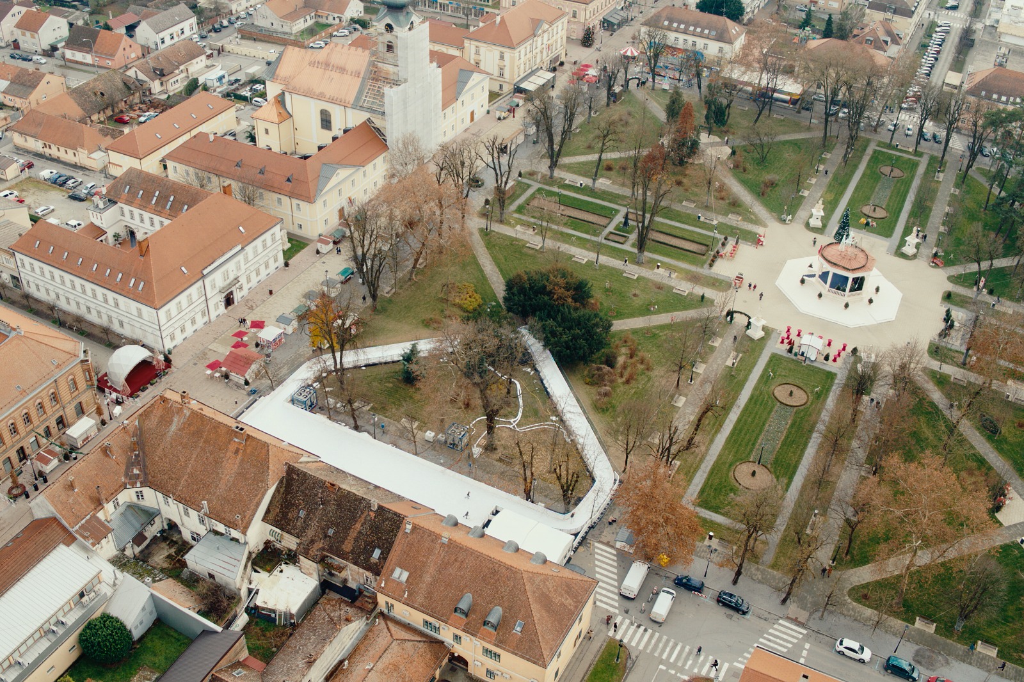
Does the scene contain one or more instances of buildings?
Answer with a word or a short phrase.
Yes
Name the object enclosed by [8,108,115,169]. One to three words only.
house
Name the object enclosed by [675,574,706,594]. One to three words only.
car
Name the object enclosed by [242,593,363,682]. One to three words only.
shed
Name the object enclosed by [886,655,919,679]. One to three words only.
car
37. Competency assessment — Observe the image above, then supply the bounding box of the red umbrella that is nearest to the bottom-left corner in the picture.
[205,359,224,373]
